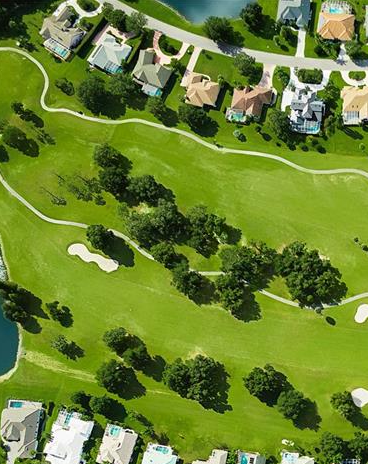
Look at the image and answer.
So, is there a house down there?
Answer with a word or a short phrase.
Yes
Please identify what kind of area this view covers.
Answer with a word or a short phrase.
golf course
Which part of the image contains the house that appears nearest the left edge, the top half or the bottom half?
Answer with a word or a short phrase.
bottom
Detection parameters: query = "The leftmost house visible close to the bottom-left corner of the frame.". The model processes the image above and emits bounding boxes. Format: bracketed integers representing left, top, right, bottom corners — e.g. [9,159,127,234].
[2,408,46,458]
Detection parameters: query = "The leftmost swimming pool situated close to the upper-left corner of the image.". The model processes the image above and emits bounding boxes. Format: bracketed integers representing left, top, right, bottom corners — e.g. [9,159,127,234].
[43,39,71,59]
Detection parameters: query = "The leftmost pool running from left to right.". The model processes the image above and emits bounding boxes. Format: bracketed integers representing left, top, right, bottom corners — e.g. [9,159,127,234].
[7,398,42,410]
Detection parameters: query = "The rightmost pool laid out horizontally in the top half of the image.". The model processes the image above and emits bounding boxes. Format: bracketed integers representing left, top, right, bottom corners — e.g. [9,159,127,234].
[321,0,352,15]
